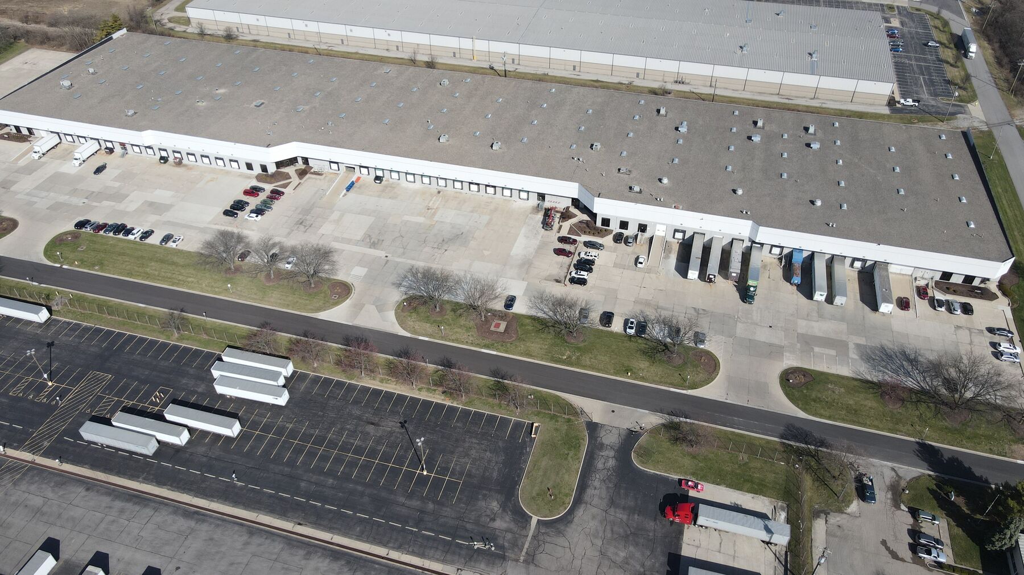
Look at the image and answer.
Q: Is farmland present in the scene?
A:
No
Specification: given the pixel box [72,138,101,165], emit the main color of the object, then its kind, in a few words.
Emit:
white truck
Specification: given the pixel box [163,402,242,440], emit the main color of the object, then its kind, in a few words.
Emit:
white trailer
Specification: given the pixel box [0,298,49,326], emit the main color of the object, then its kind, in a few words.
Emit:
white trailer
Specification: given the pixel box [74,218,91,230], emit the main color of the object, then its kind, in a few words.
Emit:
black vehicle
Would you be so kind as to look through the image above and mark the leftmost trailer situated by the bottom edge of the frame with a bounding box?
[17,549,58,575]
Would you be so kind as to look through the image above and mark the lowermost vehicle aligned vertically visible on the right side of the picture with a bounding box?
[860,468,878,505]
